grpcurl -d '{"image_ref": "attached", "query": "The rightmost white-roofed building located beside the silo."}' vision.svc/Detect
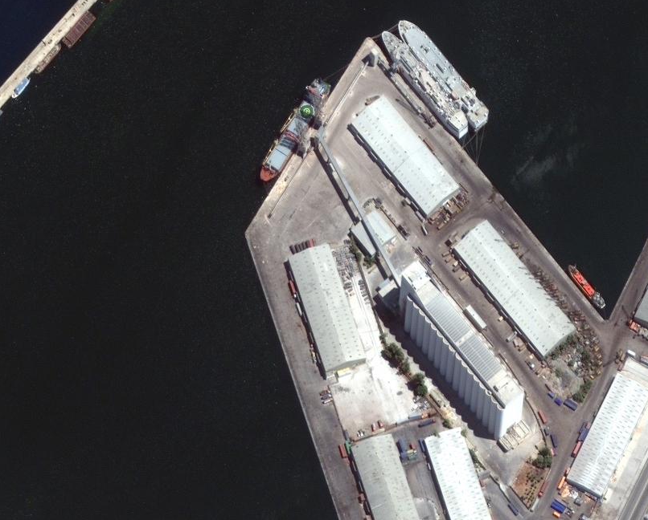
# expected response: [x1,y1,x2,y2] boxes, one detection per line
[568,372,648,499]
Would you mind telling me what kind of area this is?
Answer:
port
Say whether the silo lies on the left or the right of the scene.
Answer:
right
